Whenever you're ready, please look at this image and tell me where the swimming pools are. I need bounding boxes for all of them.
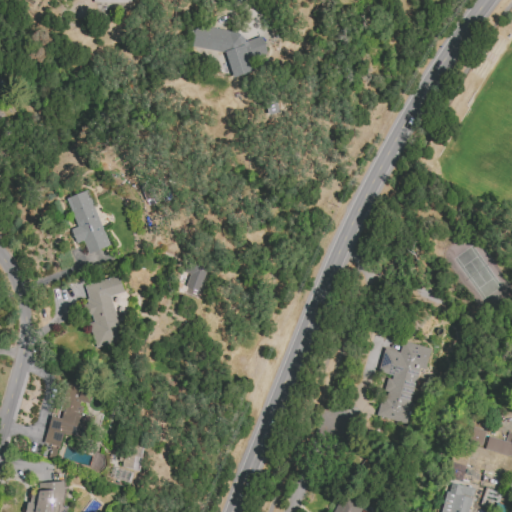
[64,447,92,466]
[84,499,102,512]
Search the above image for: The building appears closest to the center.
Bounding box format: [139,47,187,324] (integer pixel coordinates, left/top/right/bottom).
[187,266,207,296]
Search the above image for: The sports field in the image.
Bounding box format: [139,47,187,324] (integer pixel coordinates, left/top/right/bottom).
[441,41,512,202]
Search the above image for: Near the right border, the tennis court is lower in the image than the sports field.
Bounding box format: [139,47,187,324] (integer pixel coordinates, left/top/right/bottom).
[442,244,505,306]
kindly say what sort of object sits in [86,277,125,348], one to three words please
house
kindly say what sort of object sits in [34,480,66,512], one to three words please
house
